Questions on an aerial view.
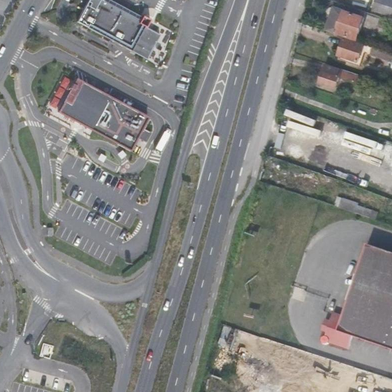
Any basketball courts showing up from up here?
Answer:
No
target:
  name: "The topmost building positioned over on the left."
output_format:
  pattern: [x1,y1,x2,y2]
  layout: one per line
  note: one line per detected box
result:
[78,0,162,58]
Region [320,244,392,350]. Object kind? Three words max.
building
